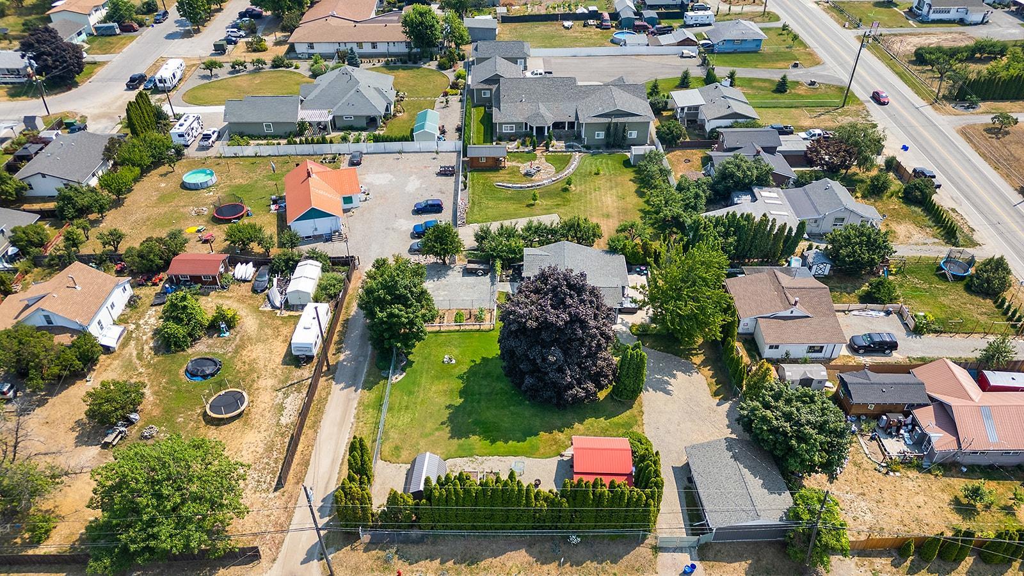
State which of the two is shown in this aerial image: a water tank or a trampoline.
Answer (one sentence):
Looking from above, you can make out a trampoline.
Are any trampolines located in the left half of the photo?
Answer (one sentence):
Yes, a trampoline shows up in the left half of the photo.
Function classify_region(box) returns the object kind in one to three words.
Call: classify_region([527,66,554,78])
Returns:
vehicle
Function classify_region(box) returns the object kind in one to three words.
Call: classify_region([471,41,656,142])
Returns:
house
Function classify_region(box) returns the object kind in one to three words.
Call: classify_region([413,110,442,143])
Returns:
shed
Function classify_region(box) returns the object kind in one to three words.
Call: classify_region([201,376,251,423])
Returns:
trampoline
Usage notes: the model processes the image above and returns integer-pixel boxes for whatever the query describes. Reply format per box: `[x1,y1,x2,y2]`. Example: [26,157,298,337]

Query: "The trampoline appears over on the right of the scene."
[935,242,982,281]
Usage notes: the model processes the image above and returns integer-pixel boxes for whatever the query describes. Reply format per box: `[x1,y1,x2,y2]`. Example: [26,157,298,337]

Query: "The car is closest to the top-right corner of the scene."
[873,89,890,102]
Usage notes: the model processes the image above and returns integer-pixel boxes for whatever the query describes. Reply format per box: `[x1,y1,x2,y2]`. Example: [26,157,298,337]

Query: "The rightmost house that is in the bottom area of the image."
[914,363,1024,468]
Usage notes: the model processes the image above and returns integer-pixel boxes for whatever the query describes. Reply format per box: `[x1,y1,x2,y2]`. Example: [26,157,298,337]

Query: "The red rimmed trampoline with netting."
[209,191,249,221]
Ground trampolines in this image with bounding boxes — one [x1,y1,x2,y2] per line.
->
[935,242,982,281]
[209,191,249,221]
[201,376,251,423]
